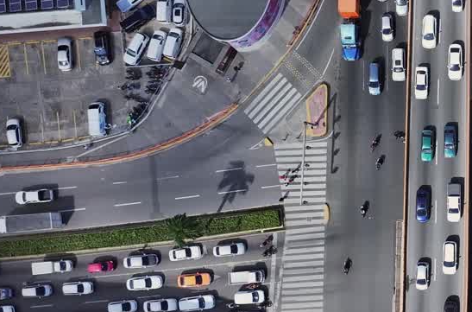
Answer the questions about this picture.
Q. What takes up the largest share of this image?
paved ground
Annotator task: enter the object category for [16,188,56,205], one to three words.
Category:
vehicle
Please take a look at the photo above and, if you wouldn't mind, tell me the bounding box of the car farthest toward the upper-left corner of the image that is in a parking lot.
[56,38,76,71]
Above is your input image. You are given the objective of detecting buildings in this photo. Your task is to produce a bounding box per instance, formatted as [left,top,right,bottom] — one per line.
[0,0,121,42]
[189,0,288,53]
